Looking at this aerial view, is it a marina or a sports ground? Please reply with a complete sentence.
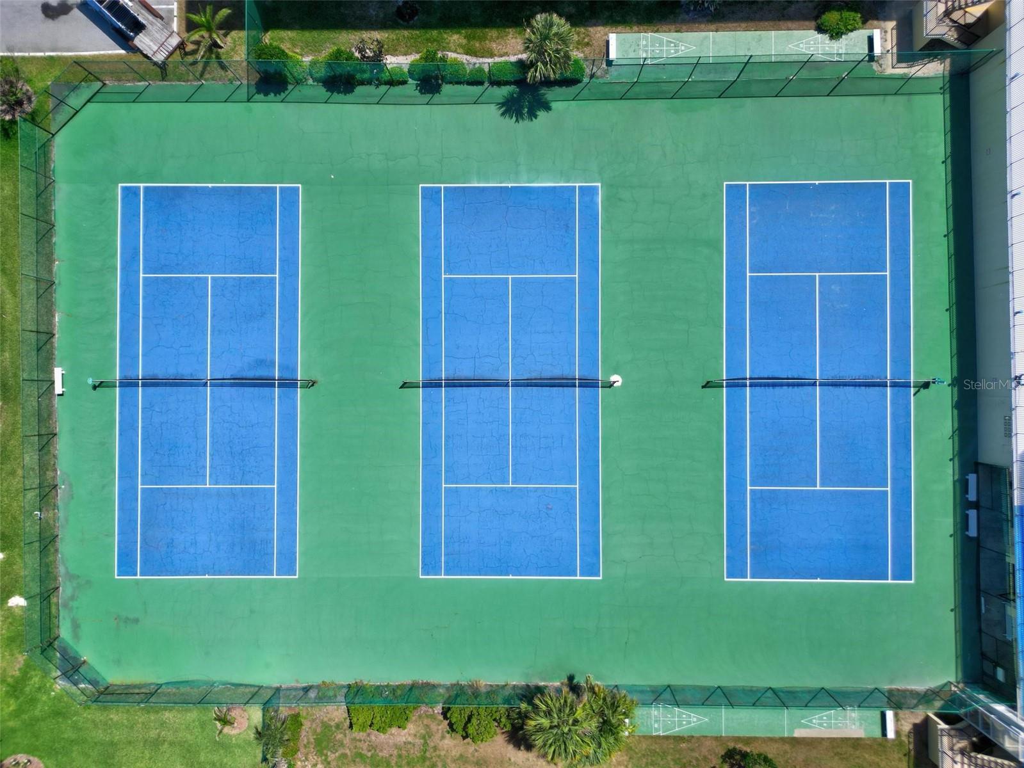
This looks like a sports ground.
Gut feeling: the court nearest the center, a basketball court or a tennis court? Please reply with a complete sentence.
I'd identify the court nearest the center as a tennis court.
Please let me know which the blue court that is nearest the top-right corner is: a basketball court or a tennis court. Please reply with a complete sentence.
Specifically, the blue court that is nearest the top-right corner is a tennis court.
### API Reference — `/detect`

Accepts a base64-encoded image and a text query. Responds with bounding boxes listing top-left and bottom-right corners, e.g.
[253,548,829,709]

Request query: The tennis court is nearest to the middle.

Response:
[420,183,602,579]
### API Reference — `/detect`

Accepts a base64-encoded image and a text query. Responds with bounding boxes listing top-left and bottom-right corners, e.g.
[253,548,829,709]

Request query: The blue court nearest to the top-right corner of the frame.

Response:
[724,180,914,583]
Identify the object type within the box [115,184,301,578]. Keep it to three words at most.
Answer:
tennis court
